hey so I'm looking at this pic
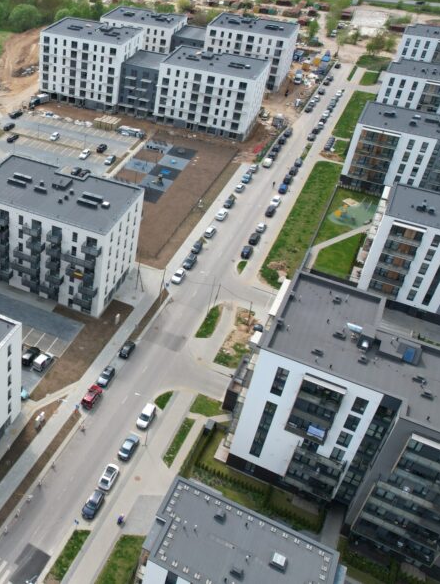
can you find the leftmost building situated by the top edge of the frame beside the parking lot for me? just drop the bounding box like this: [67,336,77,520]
[39,16,143,109]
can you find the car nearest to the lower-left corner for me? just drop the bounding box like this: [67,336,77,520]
[87,493,111,523]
